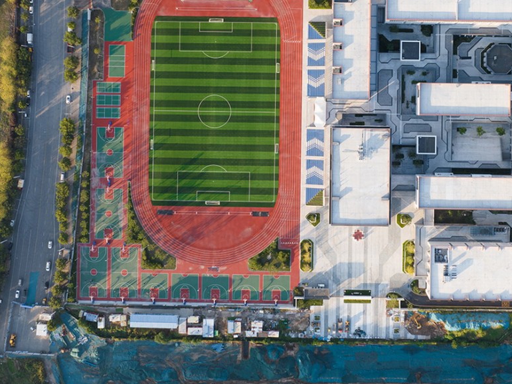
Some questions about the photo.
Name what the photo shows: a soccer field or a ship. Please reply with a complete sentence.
Looking from above, you can make out a soccer field.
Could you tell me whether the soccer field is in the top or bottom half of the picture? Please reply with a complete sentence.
The soccer field sits in the top half of the picture.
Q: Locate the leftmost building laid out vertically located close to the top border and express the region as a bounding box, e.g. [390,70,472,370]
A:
[332,0,372,101]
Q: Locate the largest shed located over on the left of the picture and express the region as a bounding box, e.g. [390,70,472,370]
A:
[130,313,179,328]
